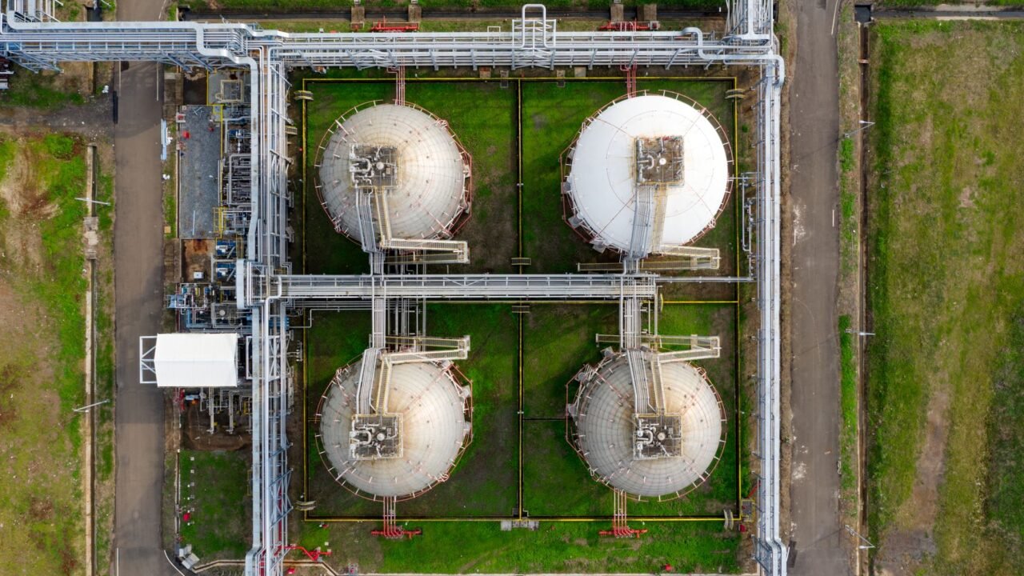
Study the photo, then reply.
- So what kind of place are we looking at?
industrial area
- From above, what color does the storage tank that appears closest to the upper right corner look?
white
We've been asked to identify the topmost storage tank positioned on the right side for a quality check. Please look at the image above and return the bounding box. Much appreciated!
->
[560,88,736,261]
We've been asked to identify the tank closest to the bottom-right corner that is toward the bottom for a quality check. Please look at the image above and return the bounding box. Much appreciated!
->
[565,341,728,503]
